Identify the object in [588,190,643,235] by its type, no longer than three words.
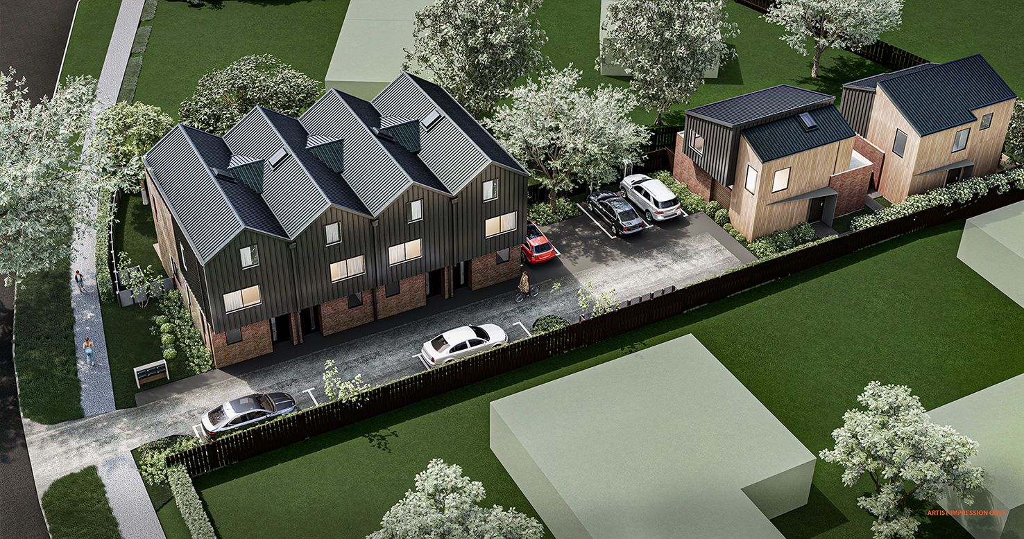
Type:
car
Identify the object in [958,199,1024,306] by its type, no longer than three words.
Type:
building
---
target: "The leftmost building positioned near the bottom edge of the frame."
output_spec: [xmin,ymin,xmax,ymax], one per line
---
[490,335,817,539]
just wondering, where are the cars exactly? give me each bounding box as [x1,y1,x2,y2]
[620,174,679,220]
[201,390,295,439]
[420,324,505,368]
[588,190,643,235]
[520,218,557,261]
